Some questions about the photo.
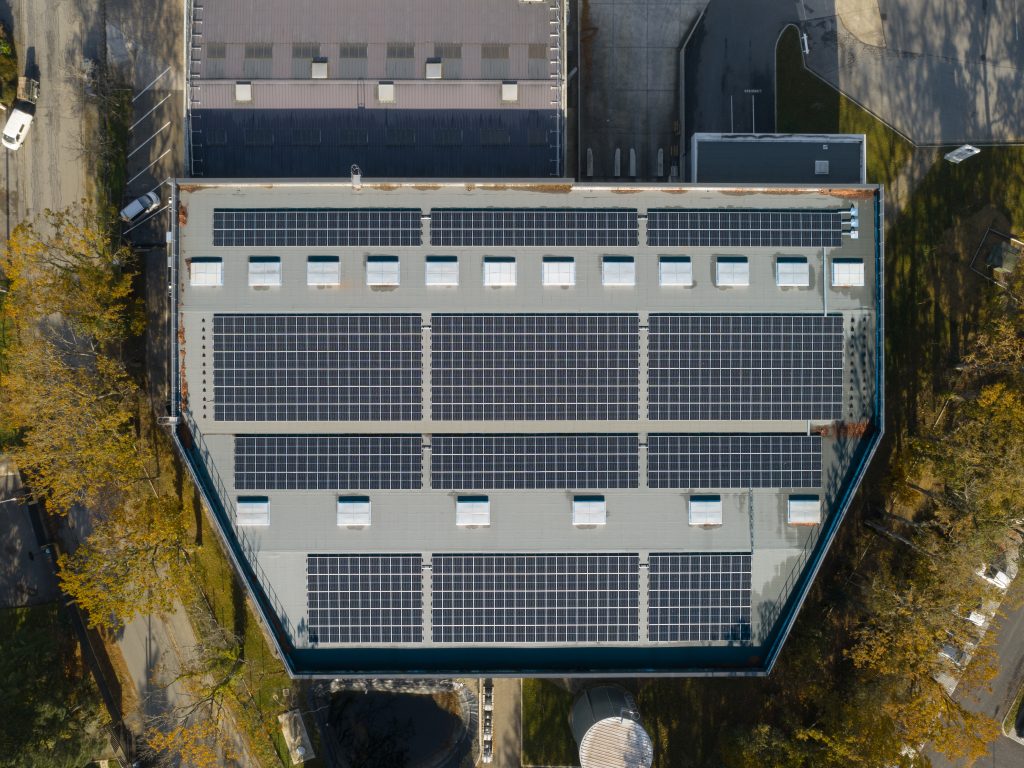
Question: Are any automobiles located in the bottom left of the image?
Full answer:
No, in the bottom left of the image there is no automobile.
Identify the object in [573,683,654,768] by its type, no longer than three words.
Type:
storage tank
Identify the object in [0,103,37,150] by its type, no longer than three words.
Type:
van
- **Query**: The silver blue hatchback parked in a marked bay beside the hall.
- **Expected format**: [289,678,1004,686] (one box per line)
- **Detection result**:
[119,192,161,223]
